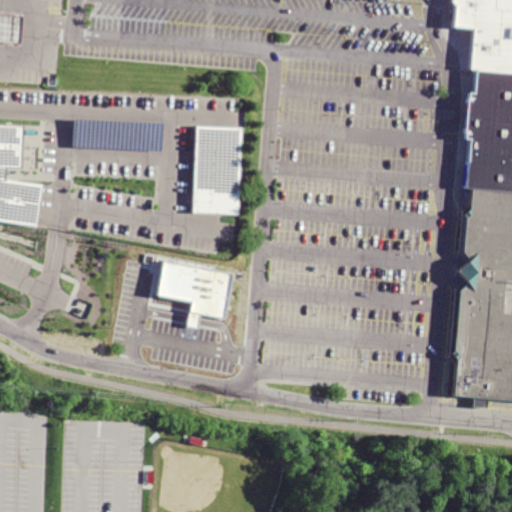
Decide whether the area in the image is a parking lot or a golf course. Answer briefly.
parking lot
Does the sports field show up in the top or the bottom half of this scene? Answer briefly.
bottom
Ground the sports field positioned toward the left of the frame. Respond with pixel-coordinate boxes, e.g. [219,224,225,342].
[150,440,254,512]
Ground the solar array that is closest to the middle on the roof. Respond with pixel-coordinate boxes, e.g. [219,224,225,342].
[198,130,239,192]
